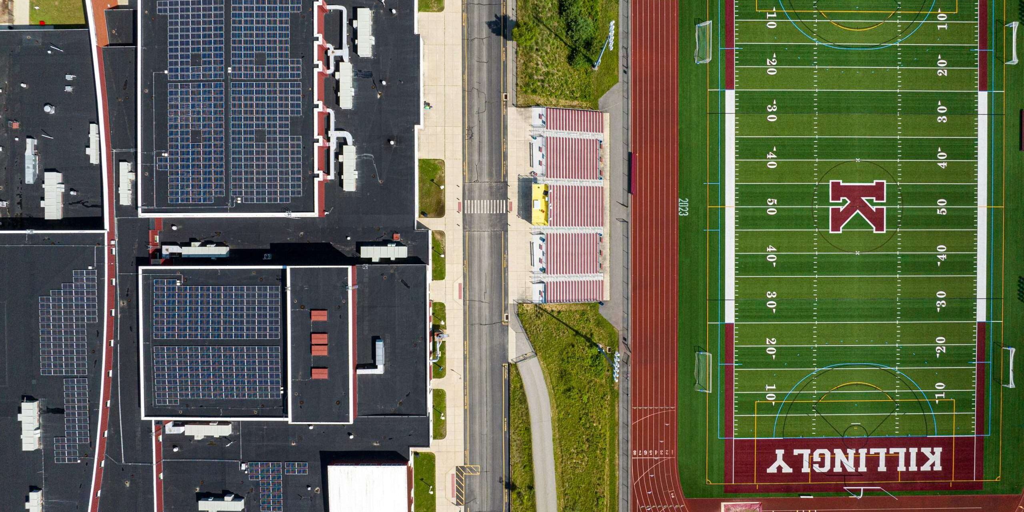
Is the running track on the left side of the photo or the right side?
right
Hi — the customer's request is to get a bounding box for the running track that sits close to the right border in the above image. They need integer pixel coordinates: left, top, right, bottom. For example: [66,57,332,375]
[632,0,1024,512]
